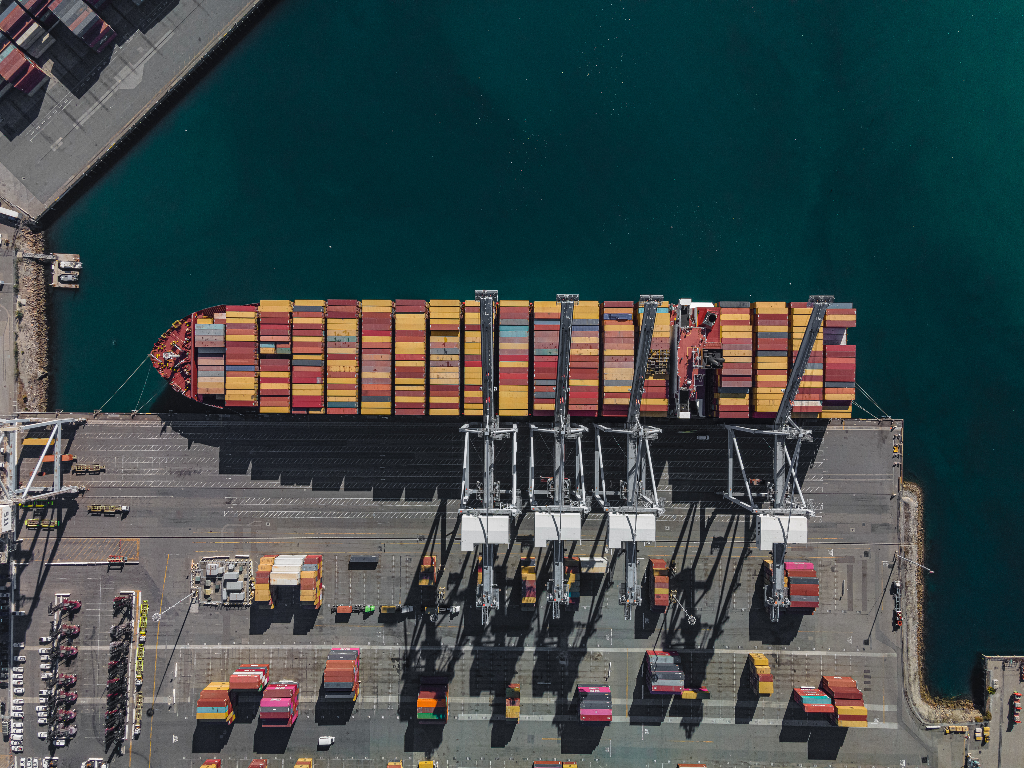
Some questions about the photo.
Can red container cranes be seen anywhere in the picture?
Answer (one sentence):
No, there's no red container crane here.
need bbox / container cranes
[520,292,597,622]
[452,288,526,622]
[710,295,833,624]
[587,294,671,623]
[0,418,91,540]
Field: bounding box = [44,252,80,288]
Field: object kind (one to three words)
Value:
pier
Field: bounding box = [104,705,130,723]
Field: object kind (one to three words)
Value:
work vehicle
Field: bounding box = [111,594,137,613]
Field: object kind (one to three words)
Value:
work vehicle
